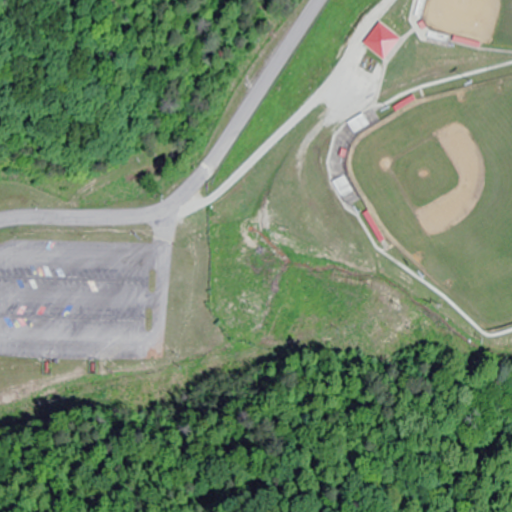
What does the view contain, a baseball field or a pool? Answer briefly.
baseball field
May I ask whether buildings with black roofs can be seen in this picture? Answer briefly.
No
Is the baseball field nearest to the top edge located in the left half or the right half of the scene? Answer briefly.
right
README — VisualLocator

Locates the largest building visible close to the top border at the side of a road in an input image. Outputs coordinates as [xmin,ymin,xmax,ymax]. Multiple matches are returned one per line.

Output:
[362,20,400,60]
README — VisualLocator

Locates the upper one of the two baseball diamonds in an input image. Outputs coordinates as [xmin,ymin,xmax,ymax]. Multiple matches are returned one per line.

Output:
[423,0,512,48]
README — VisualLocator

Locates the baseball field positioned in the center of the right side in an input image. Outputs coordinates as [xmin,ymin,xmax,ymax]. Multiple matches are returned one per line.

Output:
[347,76,512,330]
